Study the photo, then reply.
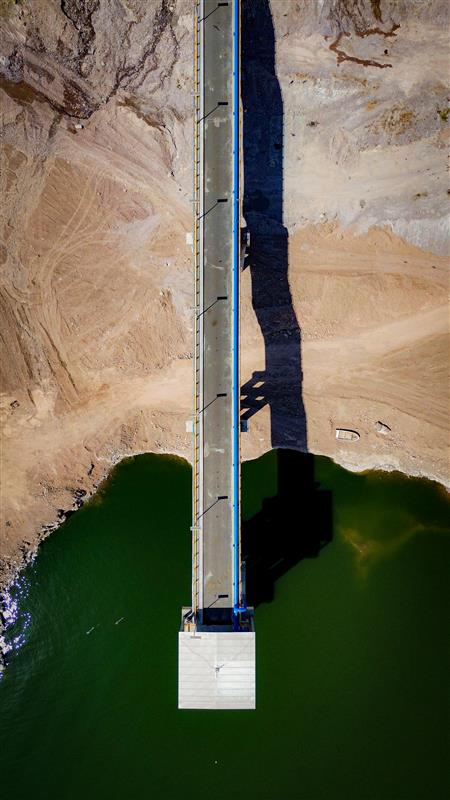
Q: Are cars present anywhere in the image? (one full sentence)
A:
No, the frame has no car in it.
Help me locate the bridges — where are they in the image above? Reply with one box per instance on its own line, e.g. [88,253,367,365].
[186,0,248,624]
